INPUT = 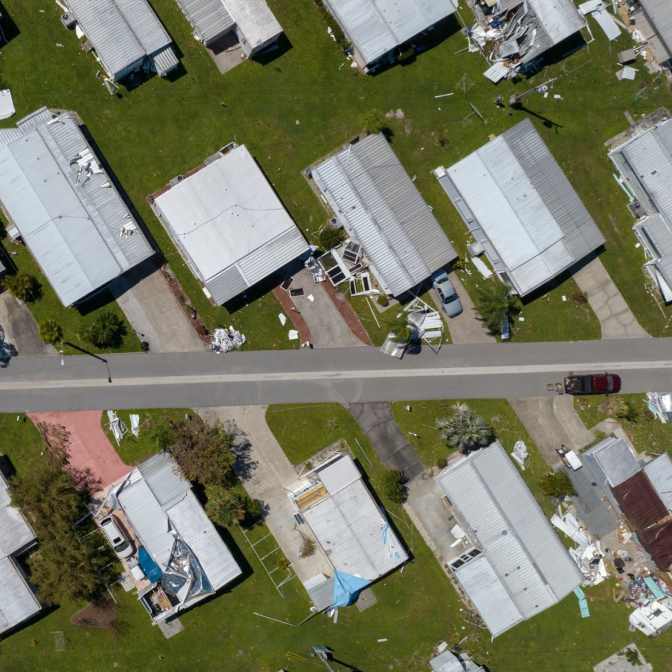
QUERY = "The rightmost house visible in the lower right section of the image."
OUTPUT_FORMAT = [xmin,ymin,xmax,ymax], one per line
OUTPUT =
[574,435,672,600]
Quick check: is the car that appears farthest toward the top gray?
Yes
